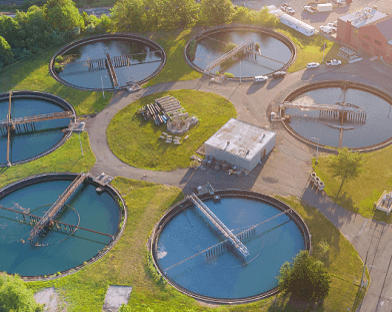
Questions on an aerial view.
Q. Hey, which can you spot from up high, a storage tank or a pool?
storage tank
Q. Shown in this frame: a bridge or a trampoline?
bridge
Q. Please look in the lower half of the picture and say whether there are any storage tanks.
Yes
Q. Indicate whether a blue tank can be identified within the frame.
Yes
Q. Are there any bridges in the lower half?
Yes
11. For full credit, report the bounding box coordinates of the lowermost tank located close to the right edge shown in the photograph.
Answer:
[274,80,392,153]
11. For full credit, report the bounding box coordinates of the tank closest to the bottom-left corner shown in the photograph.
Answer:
[0,169,126,281]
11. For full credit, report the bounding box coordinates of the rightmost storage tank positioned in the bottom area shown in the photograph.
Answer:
[151,183,310,305]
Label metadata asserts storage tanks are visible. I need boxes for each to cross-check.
[151,183,310,305]
[274,80,392,153]
[0,91,82,168]
[185,25,296,82]
[0,169,126,281]
[50,33,165,92]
